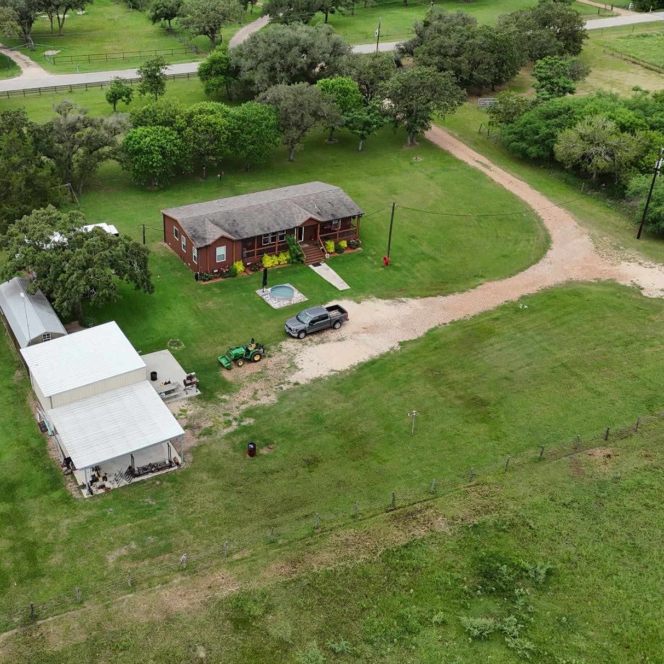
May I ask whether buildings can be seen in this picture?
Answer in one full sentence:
Yes, the picture does show a building.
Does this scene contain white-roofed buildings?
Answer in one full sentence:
Yes, a white-roofed building appears in the view.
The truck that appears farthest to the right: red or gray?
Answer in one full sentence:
In this view, the truck that appears farthest to the right is gray.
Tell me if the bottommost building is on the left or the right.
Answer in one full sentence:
The bottommost building sits on the left side.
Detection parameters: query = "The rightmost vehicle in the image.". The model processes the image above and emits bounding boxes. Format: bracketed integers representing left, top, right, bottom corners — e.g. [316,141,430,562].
[280,303,350,340]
